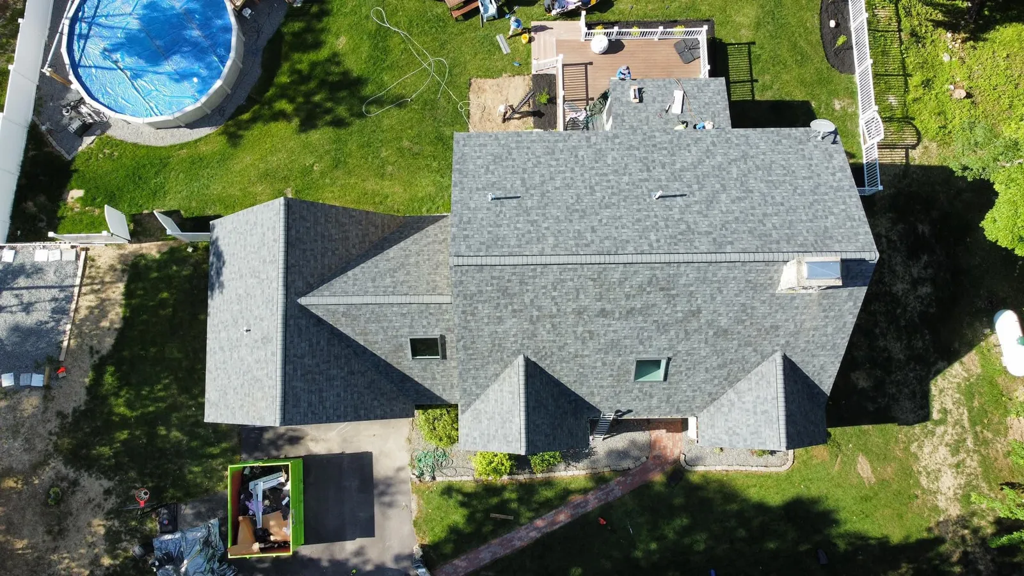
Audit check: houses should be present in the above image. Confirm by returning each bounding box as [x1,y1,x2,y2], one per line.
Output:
[203,78,879,455]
